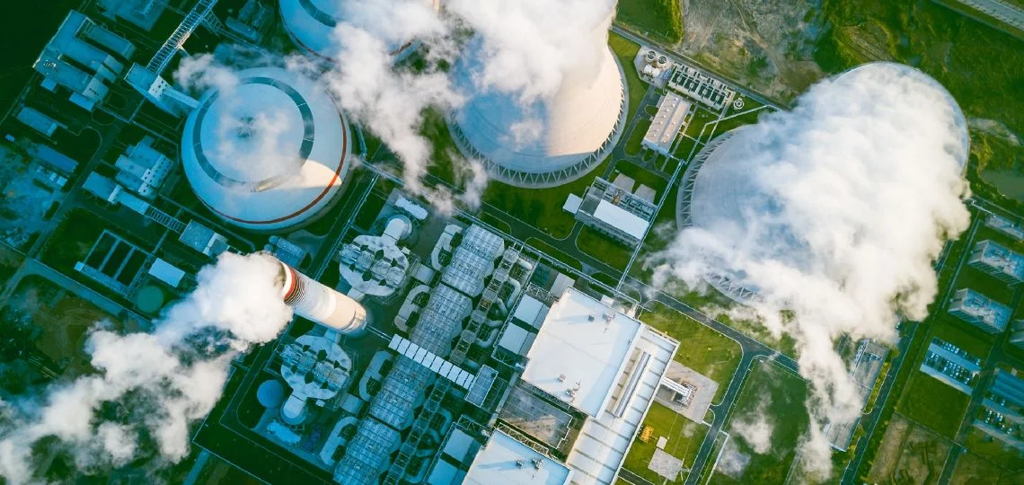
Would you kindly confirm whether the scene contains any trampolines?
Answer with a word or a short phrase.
No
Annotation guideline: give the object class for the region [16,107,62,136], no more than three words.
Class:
shed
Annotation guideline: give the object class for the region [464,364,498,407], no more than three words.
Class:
house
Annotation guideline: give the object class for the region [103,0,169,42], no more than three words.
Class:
house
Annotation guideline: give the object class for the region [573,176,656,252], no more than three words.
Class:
building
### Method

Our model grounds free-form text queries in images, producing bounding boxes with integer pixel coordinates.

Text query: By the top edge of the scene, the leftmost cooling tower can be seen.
[445,0,628,187]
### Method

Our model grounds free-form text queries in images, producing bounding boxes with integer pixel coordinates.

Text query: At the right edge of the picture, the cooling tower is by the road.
[676,61,973,306]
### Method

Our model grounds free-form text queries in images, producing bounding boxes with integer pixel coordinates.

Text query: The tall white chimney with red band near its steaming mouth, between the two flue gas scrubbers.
[261,262,371,333]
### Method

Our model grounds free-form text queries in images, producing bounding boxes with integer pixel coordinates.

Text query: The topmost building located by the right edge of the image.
[977,207,1024,248]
